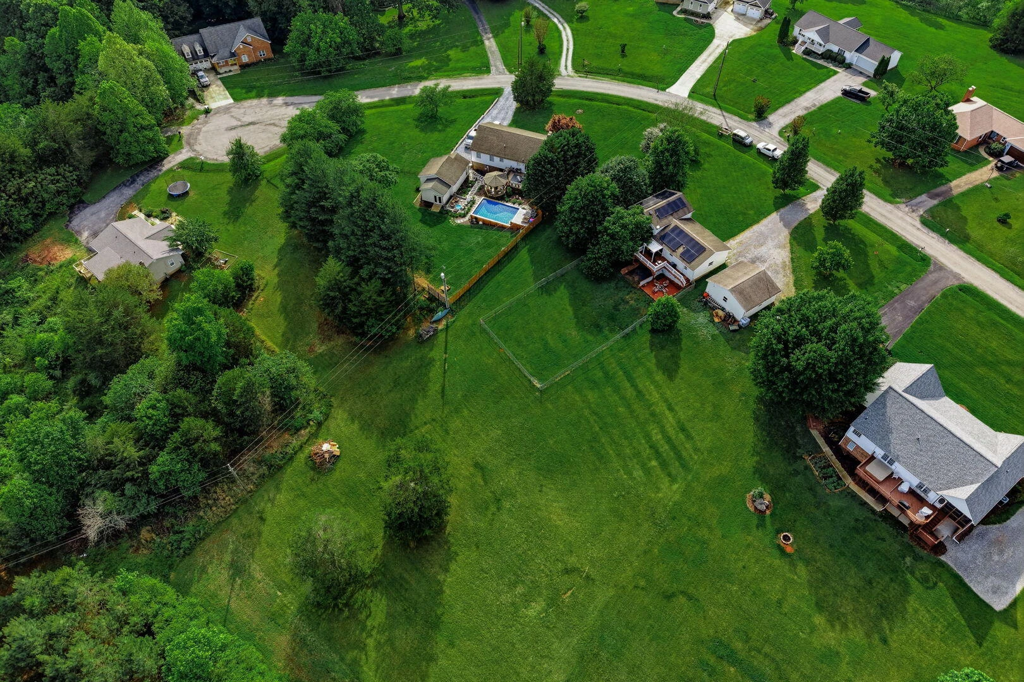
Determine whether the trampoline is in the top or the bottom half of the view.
top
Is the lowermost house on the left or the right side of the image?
right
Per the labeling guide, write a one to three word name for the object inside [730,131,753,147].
car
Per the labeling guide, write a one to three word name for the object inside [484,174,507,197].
gazebo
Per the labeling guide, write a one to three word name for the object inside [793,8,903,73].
house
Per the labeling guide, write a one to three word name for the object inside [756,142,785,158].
vehicle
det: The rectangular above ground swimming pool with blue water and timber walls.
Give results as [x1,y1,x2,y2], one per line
[472,197,535,234]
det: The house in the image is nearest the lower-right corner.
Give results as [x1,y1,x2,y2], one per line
[840,357,1024,550]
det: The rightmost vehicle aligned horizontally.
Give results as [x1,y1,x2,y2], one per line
[843,86,870,99]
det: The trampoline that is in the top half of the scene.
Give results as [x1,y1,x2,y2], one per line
[162,177,190,199]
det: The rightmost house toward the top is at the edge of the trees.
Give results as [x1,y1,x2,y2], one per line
[932,84,1024,173]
